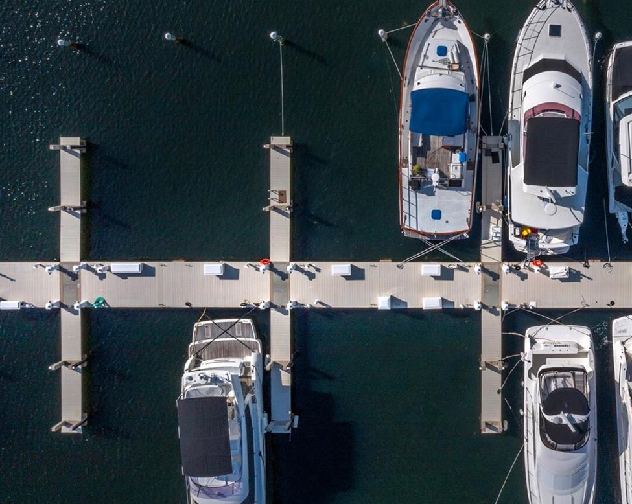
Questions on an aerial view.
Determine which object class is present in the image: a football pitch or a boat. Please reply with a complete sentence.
Visible in the photo is a boat.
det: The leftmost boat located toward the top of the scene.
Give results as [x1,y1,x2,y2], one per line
[398,0,480,241]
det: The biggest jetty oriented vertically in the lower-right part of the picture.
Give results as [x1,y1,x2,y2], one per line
[481,309,501,433]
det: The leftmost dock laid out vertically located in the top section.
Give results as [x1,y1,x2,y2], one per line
[60,138,86,262]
